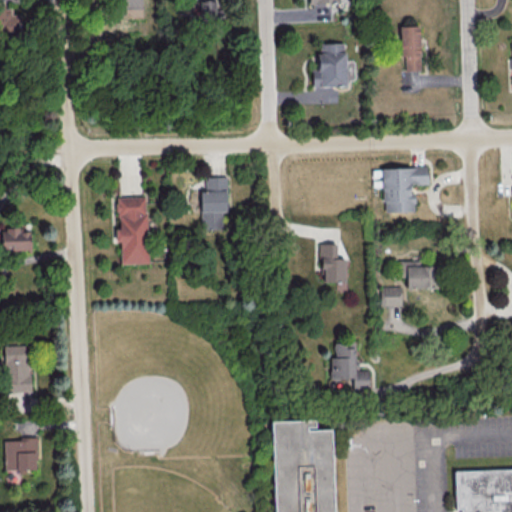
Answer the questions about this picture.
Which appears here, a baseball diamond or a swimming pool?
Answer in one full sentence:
This aerial view contains a baseball diamond.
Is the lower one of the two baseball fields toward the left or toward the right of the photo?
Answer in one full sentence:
The lower one of the two baseball fields is on the left side of the image.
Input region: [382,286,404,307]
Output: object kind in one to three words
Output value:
building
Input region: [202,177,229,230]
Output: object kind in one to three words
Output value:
house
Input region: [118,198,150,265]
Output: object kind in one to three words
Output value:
house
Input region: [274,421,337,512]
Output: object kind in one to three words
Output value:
building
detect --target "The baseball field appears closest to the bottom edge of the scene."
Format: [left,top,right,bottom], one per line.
[112,465,226,512]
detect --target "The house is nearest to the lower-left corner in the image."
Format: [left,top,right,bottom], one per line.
[6,438,38,474]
